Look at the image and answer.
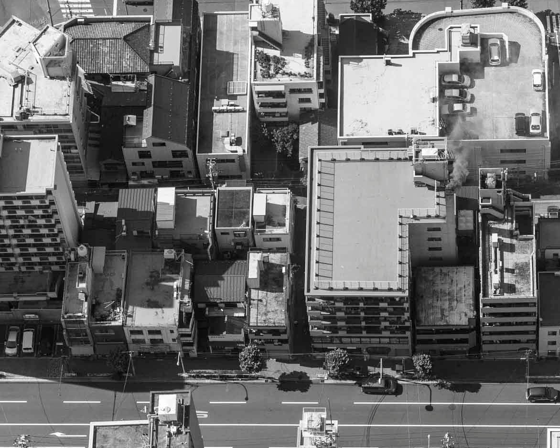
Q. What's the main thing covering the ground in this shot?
buildings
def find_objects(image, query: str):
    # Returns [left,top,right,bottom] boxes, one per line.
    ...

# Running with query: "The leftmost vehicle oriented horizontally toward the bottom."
[364,377,400,396]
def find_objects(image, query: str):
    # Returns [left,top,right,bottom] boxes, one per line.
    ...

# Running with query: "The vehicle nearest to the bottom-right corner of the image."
[526,386,559,402]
